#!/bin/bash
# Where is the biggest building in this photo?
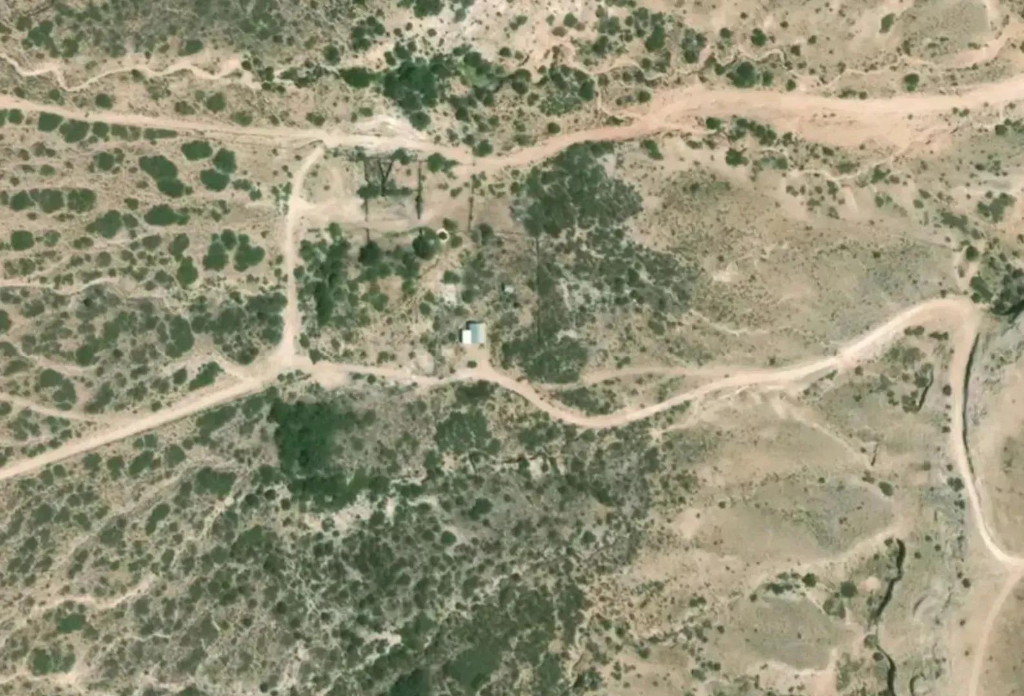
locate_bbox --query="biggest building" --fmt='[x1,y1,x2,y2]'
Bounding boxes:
[462,323,486,344]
